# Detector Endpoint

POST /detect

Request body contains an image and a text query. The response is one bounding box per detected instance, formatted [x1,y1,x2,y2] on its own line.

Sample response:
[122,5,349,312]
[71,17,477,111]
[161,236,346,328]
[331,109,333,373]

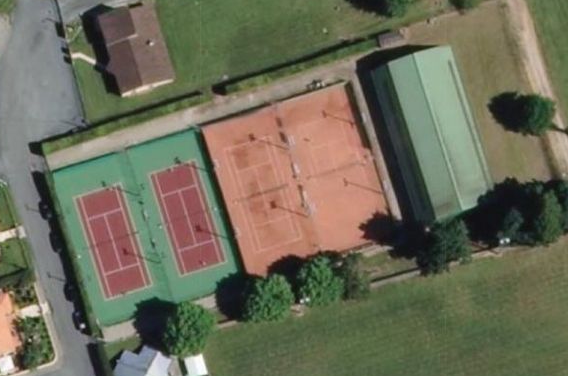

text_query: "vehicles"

[51,233,63,253]
[65,284,77,304]
[40,202,51,221]
[74,311,86,331]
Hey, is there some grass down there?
Yes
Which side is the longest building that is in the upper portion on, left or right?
right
